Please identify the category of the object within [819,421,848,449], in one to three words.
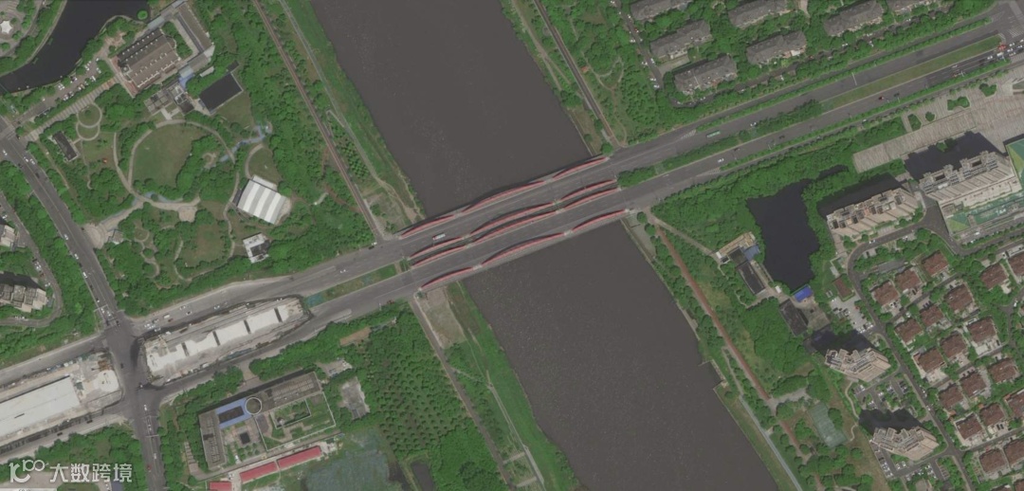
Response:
tennis court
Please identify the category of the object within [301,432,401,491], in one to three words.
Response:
pond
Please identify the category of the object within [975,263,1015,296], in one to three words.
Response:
house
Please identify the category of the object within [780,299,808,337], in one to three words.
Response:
barn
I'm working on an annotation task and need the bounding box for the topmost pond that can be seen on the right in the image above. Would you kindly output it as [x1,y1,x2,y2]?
[748,179,818,294]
